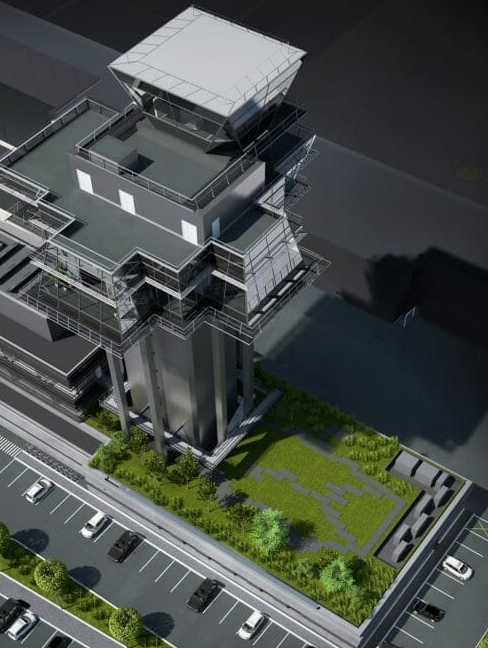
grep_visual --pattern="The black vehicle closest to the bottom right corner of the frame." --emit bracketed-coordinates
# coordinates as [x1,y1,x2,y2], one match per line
[408,598,448,626]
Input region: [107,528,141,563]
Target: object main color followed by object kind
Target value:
black car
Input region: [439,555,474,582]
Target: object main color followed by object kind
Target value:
white car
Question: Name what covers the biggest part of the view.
buildings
